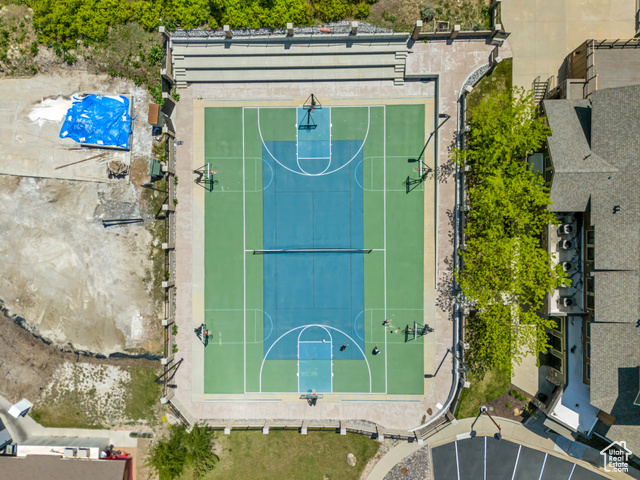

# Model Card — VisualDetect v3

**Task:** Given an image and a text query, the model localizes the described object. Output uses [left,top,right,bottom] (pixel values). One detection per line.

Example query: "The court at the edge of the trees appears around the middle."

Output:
[192,97,436,402]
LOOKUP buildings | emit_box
[521,35,640,463]
[0,436,139,480]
